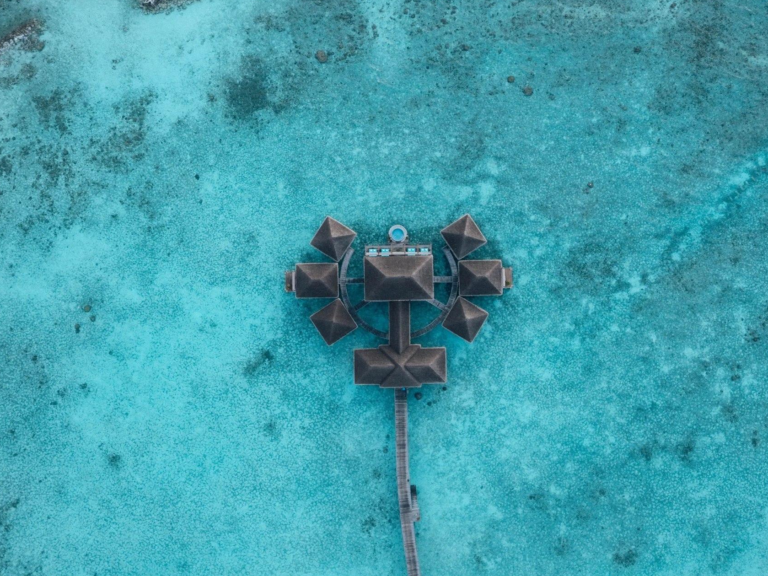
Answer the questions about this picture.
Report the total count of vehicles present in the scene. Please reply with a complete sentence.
No vehicles are visible.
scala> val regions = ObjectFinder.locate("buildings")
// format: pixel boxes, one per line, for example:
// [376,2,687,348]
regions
[311,217,355,261]
[364,238,433,301]
[311,299,356,344]
[283,263,339,297]
[354,344,446,387]
[441,215,486,257]
[458,260,514,295]
[443,296,487,341]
